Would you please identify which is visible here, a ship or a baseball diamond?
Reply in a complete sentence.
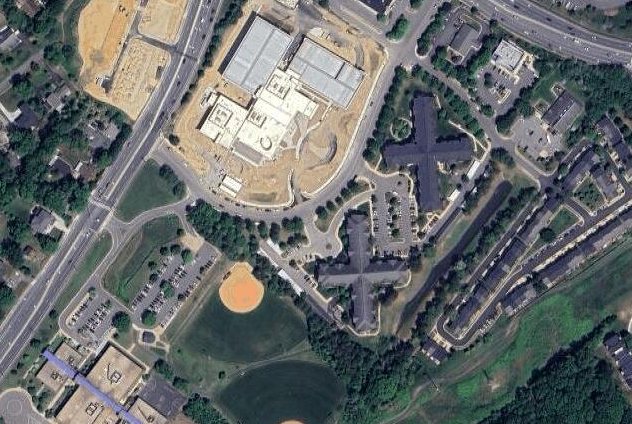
I can see a baseball diamond in this picture.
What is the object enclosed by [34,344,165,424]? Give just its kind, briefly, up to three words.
building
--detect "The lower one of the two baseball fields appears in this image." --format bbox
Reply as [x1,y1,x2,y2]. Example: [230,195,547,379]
[219,360,346,424]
